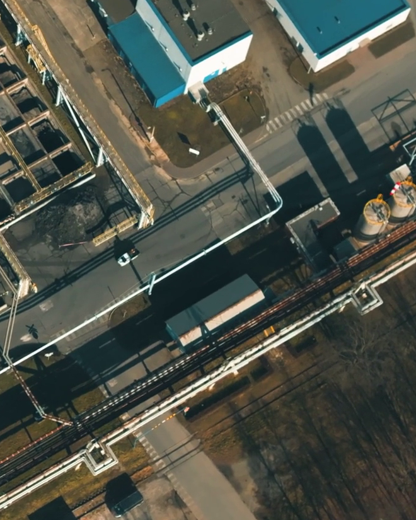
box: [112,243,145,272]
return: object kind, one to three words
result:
truck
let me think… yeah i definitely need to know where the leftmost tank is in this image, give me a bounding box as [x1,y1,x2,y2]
[353,189,395,246]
